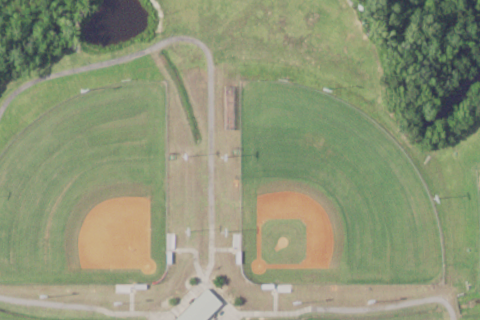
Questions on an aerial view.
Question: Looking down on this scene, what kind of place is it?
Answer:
sports ground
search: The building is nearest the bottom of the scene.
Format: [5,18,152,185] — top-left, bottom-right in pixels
[179,290,223,320]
